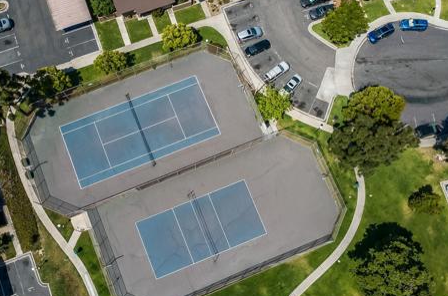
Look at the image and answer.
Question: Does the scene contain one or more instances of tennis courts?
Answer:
Yes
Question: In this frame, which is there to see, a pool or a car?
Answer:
car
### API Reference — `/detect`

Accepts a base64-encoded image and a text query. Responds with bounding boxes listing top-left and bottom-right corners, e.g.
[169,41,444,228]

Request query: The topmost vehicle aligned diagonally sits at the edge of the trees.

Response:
[307,2,333,21]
